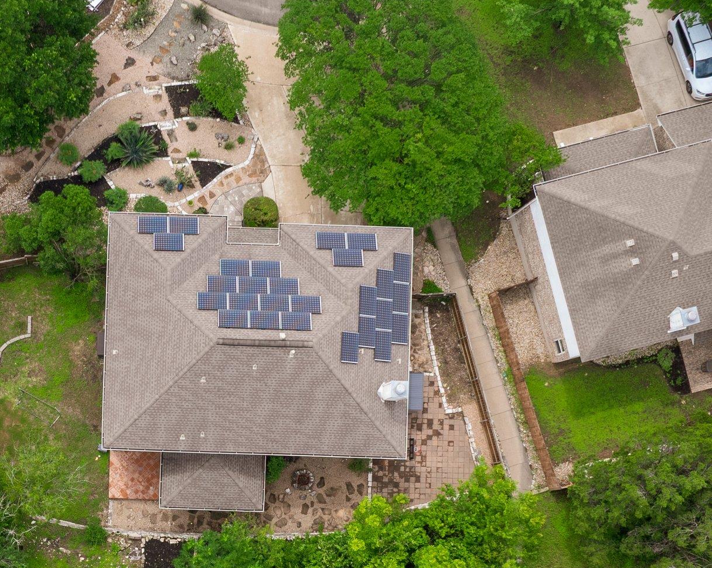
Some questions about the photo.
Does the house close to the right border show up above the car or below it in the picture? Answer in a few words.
below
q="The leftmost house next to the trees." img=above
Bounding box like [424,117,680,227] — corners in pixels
[100,209,415,513]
